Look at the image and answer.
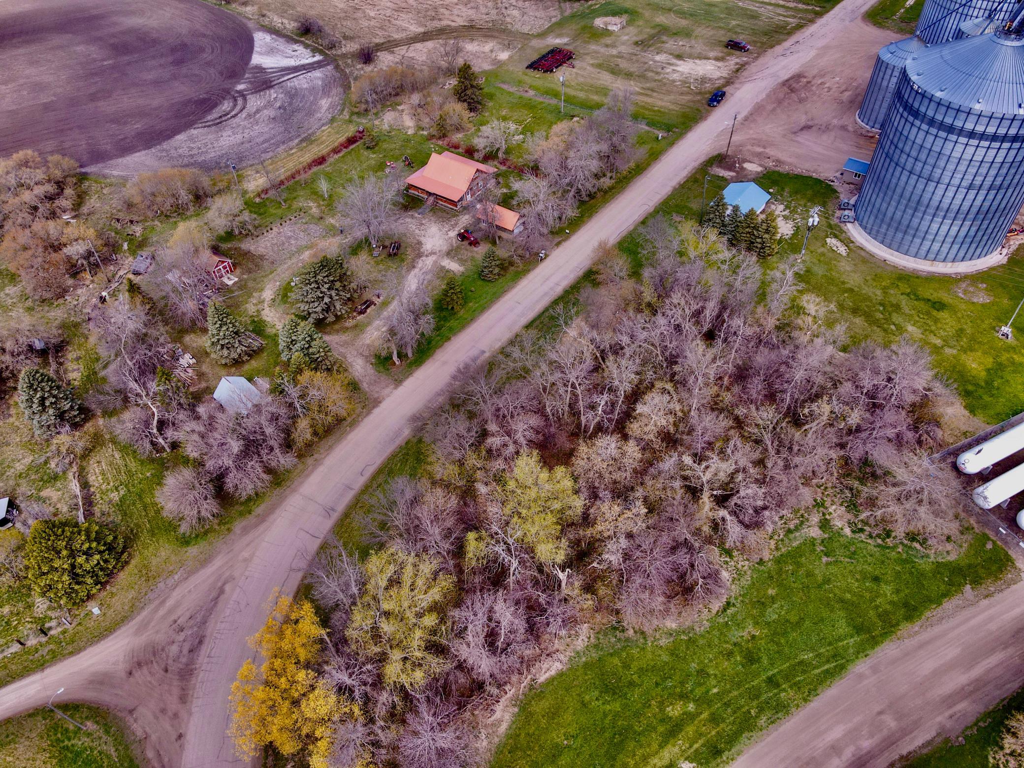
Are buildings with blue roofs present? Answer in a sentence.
Yes, the frame does contain a building with a blue roof.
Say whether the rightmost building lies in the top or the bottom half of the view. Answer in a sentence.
The rightmost building is in the top half of the image.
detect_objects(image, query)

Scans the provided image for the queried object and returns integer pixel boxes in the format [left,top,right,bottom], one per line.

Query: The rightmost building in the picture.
[842,159,873,188]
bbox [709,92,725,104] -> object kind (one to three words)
vehicle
